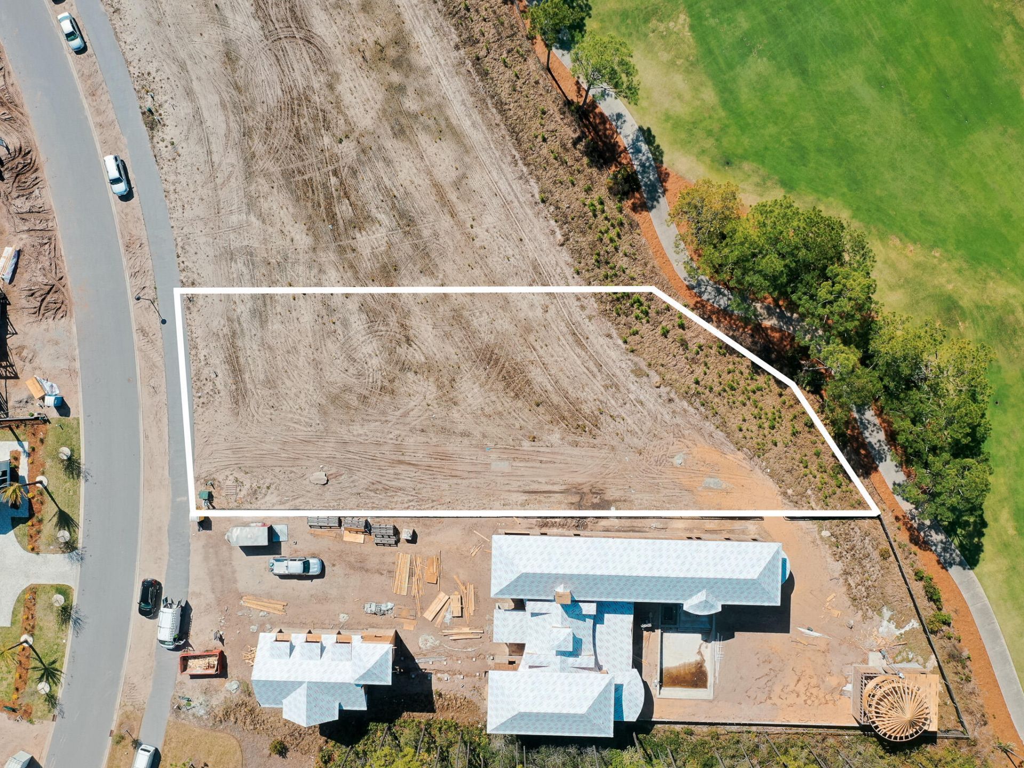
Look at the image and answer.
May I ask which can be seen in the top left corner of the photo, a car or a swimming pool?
car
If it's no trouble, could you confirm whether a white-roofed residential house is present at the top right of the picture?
No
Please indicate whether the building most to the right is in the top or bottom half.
bottom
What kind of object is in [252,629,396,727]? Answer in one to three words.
house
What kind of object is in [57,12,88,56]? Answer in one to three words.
car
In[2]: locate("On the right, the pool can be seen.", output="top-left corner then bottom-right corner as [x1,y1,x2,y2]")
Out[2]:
[642,602,715,703]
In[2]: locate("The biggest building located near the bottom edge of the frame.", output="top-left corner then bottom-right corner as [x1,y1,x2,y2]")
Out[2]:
[484,530,790,738]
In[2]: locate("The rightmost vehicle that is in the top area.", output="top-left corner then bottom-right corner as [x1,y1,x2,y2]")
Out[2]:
[103,154,133,199]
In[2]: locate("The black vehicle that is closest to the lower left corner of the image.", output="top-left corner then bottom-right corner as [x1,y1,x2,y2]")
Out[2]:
[137,576,163,618]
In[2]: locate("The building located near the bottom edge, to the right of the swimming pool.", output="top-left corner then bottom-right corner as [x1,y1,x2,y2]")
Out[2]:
[854,652,941,742]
